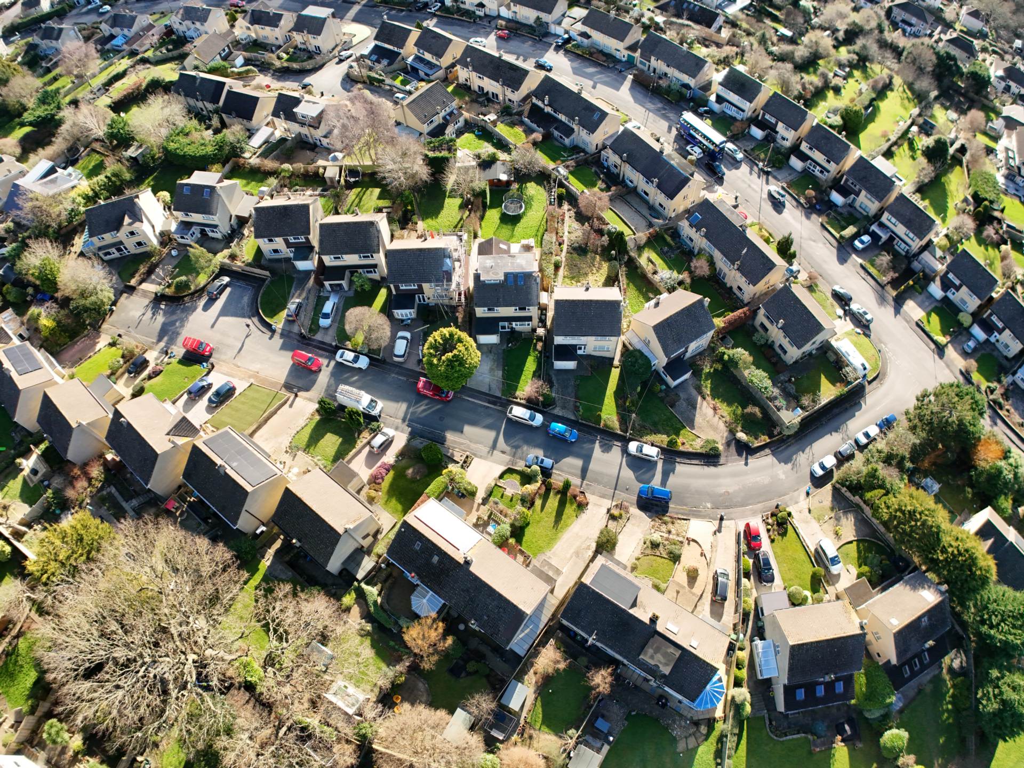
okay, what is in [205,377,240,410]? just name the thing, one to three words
car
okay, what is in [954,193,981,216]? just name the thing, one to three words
shed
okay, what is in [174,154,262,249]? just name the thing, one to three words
house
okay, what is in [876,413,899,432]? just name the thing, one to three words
vehicle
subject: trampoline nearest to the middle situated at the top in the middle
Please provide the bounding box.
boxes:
[502,188,524,214]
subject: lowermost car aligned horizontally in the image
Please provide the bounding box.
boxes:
[638,485,673,505]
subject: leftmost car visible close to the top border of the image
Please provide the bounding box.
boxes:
[8,32,25,45]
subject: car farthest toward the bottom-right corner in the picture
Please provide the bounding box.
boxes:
[815,537,842,576]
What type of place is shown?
residential area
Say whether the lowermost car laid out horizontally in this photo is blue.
Yes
